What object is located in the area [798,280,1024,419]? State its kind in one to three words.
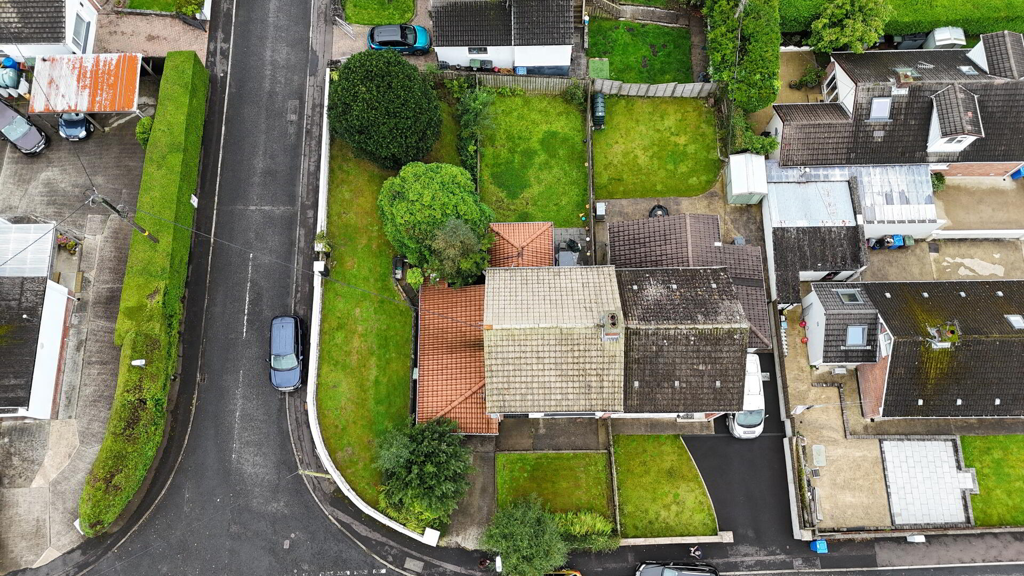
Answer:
house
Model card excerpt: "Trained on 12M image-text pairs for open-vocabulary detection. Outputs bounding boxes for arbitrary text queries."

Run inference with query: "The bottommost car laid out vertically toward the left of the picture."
[267,315,309,394]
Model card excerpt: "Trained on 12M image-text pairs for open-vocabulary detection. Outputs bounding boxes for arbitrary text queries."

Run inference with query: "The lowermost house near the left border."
[0,221,82,413]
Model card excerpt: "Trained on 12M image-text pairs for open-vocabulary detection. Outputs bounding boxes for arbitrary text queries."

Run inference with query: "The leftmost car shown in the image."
[0,93,48,159]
